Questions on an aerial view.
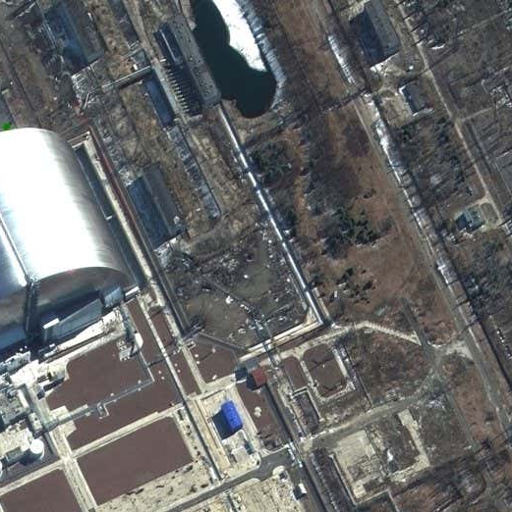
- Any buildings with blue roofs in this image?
Yes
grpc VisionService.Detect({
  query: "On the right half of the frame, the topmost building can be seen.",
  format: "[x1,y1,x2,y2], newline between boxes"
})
[362,0,400,63]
